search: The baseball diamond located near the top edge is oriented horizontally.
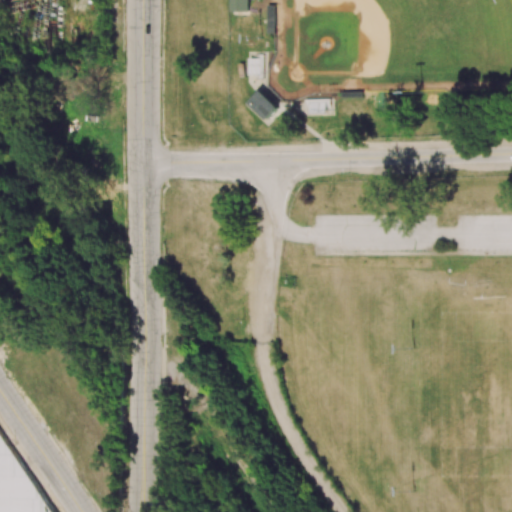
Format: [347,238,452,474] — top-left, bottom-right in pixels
[269,0,512,101]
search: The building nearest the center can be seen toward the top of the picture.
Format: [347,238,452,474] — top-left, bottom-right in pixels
[246,91,280,118]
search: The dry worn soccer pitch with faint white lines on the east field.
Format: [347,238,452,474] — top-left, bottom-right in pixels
[442,312,512,512]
